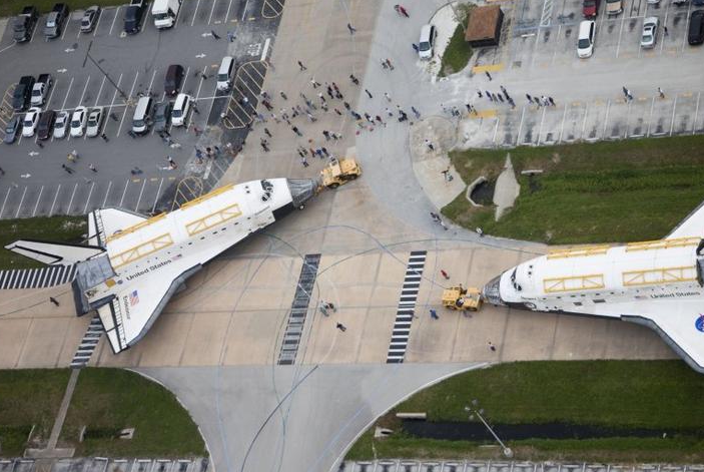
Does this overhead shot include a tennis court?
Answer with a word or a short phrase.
No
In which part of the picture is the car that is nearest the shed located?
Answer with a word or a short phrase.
top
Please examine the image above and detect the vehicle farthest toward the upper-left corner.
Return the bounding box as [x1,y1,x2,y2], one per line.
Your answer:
[16,7,39,43]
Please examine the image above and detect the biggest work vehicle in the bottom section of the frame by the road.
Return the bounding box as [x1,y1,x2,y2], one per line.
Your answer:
[439,287,484,313]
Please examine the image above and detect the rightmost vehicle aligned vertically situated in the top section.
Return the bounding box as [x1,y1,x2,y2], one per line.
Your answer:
[686,8,704,47]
